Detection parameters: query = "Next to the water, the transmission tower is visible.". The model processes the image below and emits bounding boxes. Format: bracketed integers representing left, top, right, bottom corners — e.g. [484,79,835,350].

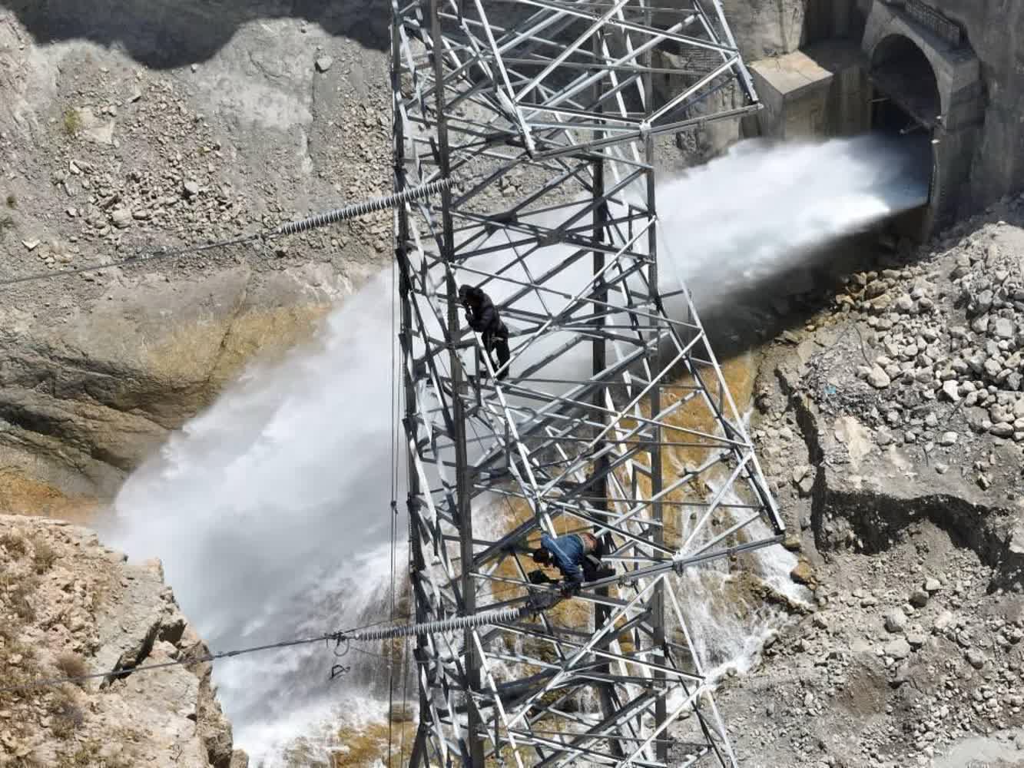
[383,0,793,768]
